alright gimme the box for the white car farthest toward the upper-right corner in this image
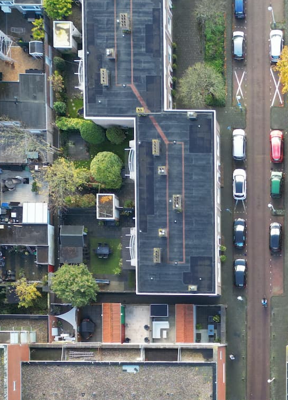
[268,29,285,64]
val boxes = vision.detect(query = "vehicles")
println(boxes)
[231,169,248,201]
[231,218,247,250]
[230,31,246,61]
[268,29,285,64]
[232,259,248,290]
[268,222,284,253]
[269,172,284,198]
[230,129,247,160]
[268,130,285,163]
[235,0,246,21]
